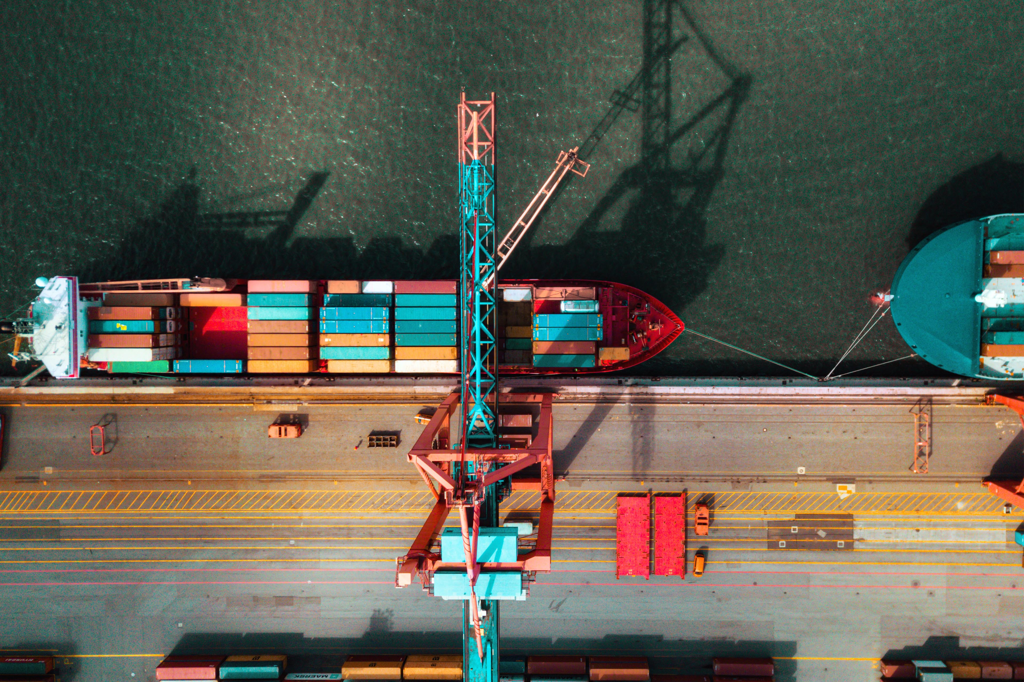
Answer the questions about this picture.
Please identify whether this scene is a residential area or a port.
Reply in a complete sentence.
The picture captures a port.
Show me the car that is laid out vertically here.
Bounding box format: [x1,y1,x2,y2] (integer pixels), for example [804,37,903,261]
[693,555,705,578]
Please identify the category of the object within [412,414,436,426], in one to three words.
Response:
vehicle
